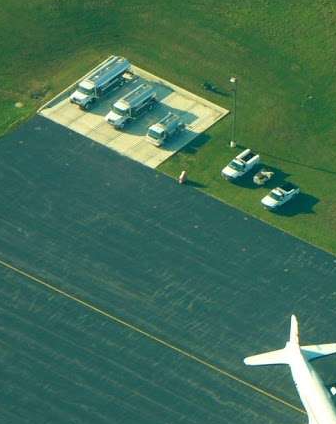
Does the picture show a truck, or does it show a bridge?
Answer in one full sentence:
Of the two, only a truck appears.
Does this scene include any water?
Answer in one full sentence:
No, there's no water in this view.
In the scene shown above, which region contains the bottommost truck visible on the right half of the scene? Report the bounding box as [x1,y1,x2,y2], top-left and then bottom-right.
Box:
[259,185,301,213]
